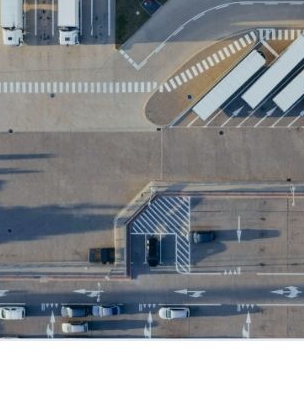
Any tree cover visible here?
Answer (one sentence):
No, the picture contains no tree cover.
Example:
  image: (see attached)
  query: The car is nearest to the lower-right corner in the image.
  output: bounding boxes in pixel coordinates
[160,306,188,320]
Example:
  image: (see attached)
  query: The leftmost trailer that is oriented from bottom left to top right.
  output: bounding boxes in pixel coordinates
[192,51,266,121]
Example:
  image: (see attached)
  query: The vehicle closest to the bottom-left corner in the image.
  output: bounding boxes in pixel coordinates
[0,306,25,320]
